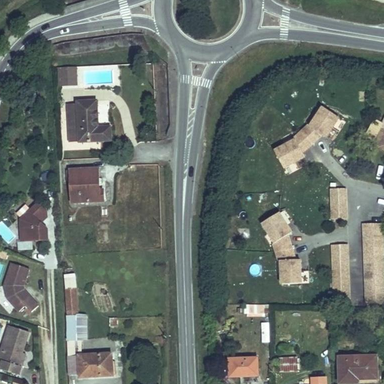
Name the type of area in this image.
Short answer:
residential area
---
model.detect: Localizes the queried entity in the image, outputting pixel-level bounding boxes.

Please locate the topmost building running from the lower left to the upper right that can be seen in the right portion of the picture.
[273,105,340,170]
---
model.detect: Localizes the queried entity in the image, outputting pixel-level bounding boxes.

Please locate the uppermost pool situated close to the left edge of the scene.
[0,221,16,244]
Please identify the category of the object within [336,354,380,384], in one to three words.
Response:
house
